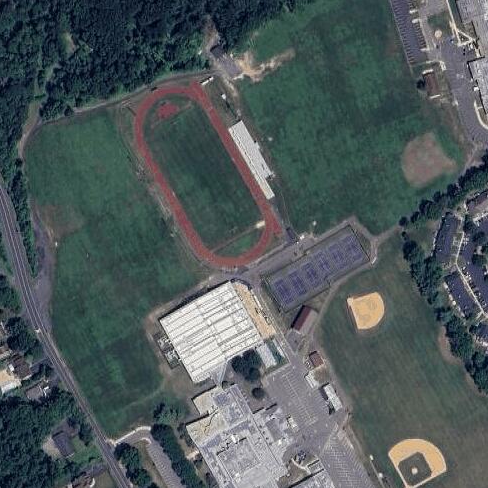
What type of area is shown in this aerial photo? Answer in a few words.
sports ground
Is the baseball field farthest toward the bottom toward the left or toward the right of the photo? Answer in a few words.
right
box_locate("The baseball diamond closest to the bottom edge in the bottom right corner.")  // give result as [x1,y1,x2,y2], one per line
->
[388,439,446,488]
